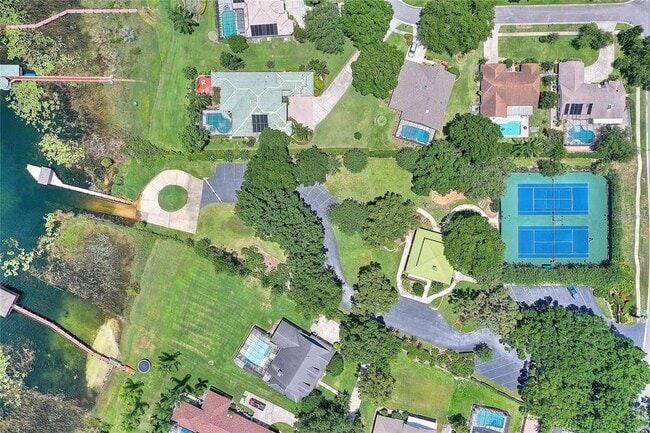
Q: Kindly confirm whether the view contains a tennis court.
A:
Yes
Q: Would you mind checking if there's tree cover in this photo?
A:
Yes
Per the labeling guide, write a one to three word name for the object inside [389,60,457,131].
house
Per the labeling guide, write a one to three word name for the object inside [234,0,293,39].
house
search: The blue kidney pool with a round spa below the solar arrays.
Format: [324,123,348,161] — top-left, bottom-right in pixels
[564,119,599,146]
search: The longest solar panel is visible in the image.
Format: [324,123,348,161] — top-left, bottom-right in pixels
[251,23,278,36]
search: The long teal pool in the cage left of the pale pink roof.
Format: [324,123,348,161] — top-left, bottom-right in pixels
[217,0,248,39]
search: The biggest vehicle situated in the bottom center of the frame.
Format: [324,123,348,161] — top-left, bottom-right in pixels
[249,398,265,410]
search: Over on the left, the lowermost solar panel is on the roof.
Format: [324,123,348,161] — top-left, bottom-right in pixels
[252,114,268,132]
